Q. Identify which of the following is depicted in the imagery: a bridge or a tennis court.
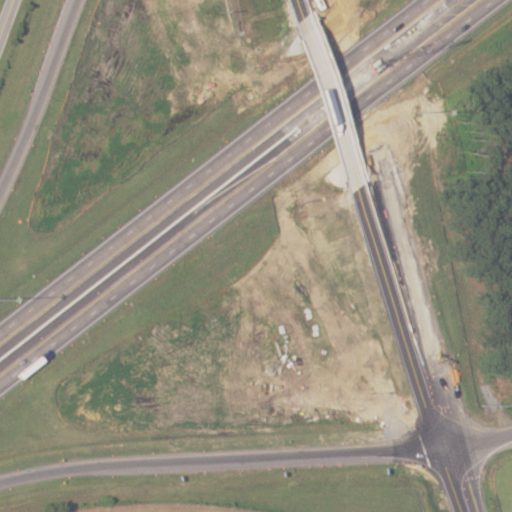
bridge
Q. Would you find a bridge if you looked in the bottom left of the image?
No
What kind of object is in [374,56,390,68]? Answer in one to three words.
vehicle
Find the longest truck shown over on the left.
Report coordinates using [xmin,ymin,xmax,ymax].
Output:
[19,352,56,380]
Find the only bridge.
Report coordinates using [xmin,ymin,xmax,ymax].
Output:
[296,10,372,192]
